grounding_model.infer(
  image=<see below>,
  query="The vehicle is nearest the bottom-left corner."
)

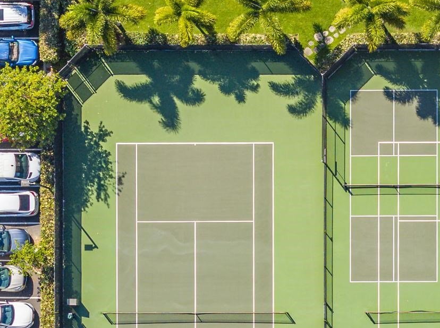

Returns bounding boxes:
[0,299,36,328]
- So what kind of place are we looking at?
sports ground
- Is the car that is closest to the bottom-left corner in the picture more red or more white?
white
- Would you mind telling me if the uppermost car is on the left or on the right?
left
